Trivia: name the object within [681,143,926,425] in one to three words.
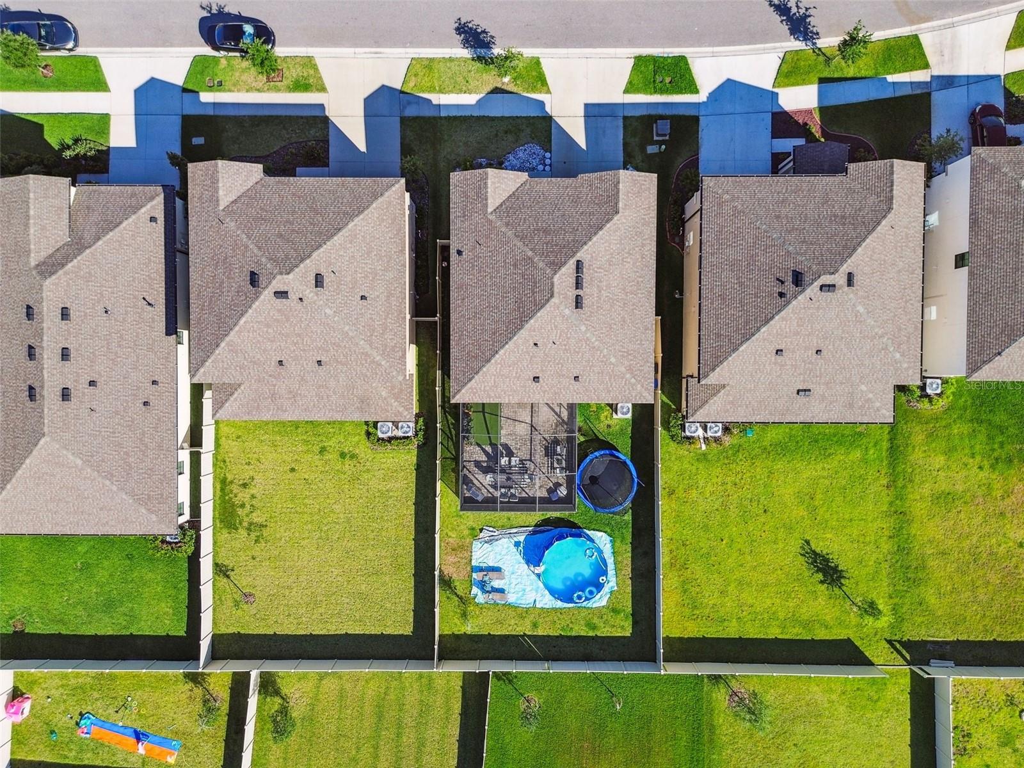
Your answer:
house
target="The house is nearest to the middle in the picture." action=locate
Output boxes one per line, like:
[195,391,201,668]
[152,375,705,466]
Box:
[450,168,658,404]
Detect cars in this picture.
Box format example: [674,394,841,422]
[207,18,276,55]
[968,104,1007,148]
[0,16,78,55]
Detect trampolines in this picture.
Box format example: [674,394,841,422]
[577,450,645,511]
